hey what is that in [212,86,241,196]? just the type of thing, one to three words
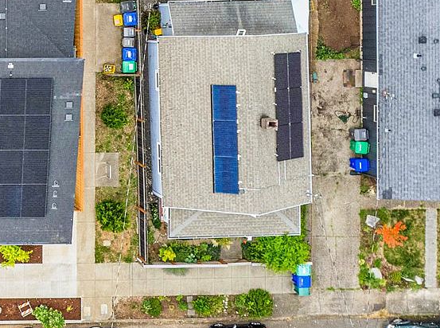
solar array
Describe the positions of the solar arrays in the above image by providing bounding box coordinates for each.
[212,86,241,196]
[275,52,305,161]
[0,80,55,223]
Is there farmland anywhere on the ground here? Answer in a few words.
No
